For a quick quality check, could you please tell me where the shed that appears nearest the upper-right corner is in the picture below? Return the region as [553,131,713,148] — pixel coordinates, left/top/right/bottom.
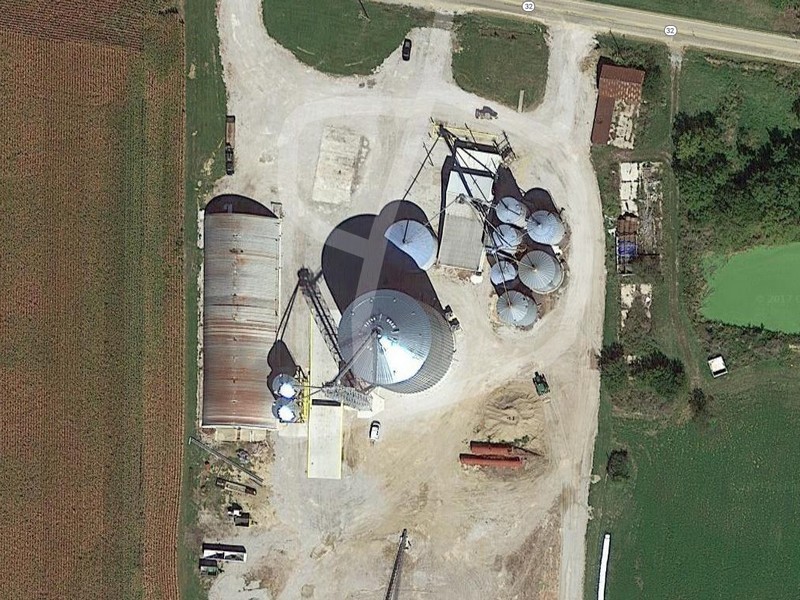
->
[592,65,646,145]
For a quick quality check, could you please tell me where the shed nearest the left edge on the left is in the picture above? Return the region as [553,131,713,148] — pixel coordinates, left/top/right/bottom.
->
[204,214,280,430]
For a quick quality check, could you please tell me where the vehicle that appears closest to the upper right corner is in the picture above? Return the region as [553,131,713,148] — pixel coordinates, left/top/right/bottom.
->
[474,109,498,122]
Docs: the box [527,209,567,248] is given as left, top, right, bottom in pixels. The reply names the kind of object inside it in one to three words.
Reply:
silo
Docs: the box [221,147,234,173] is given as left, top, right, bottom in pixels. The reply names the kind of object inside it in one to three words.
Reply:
vehicle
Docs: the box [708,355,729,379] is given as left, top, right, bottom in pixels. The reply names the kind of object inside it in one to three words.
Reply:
shed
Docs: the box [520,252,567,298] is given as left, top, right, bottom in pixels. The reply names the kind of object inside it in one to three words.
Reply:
silo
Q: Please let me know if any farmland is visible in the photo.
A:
Yes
